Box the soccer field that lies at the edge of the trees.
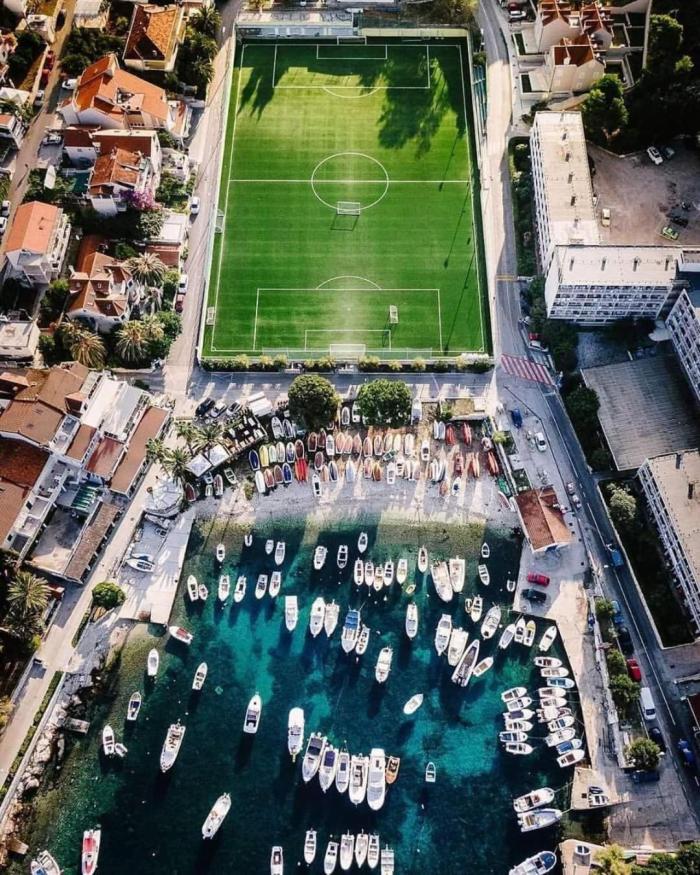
[202,41,493,355]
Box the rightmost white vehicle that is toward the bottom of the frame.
[640,685,659,719]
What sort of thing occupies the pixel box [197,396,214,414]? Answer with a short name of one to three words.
car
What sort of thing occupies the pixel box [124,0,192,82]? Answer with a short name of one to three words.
house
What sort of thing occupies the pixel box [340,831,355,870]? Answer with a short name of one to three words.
boat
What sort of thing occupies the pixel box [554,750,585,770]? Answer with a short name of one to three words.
boat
